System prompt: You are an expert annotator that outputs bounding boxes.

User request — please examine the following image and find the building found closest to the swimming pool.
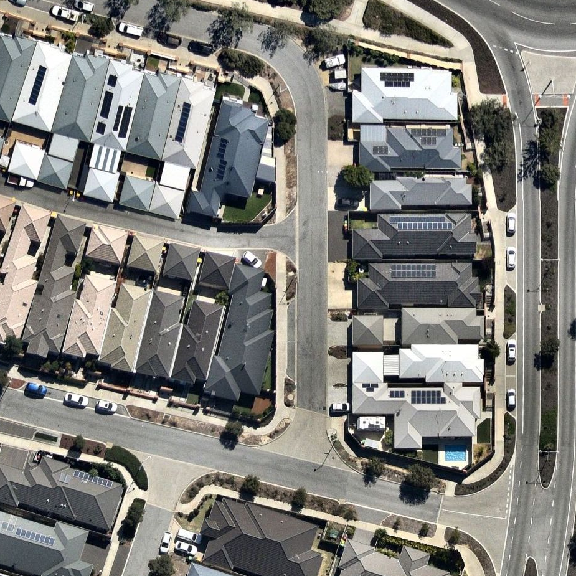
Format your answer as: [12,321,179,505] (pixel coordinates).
[353,382,480,447]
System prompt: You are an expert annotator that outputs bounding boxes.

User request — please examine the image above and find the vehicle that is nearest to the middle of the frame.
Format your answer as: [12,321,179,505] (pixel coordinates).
[241,249,262,268]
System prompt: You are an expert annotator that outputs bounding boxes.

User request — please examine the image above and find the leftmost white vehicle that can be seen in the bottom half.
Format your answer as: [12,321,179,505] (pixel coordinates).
[63,394,86,407]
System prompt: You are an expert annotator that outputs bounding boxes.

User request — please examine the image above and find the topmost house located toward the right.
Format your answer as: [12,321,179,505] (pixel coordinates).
[353,68,457,123]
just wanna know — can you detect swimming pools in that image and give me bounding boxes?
[443,444,469,462]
